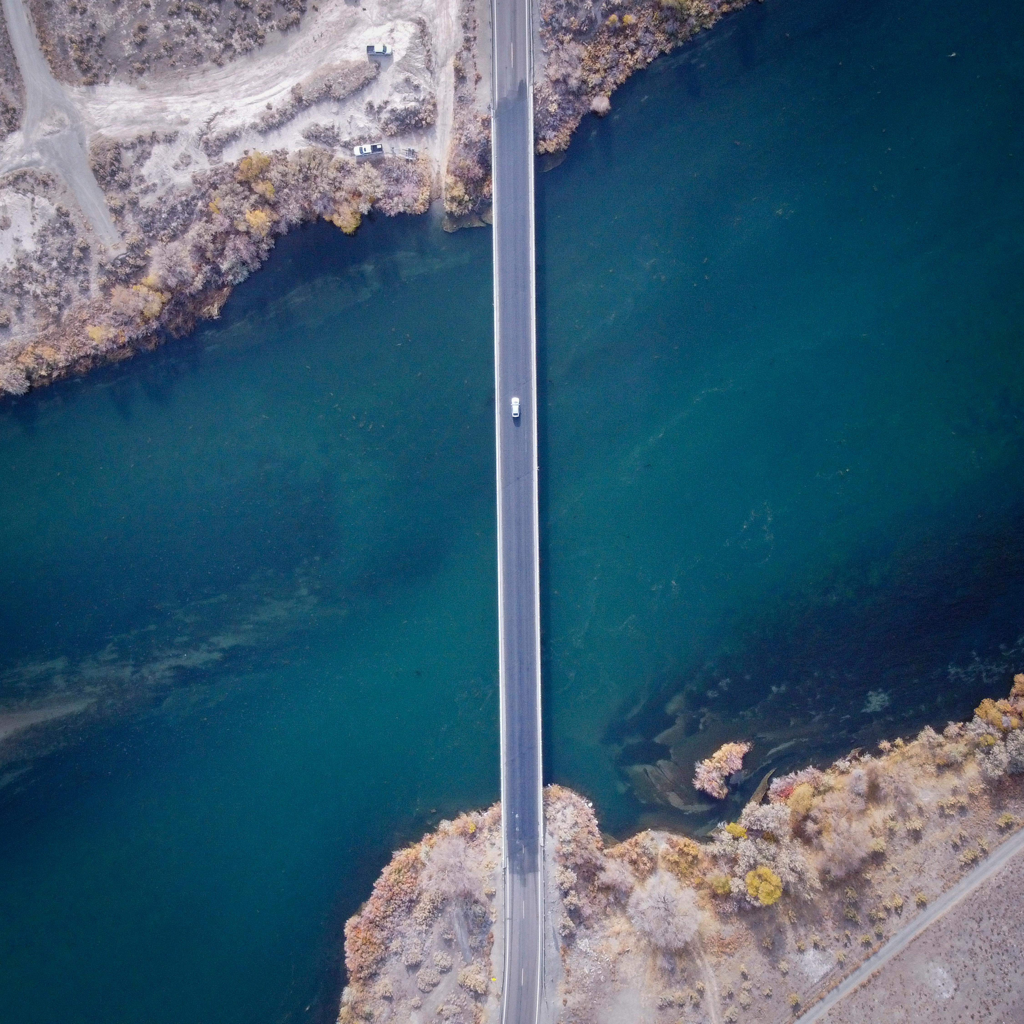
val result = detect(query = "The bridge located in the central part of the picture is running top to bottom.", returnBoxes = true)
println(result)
[491,80,544,887]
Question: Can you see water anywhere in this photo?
Yes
